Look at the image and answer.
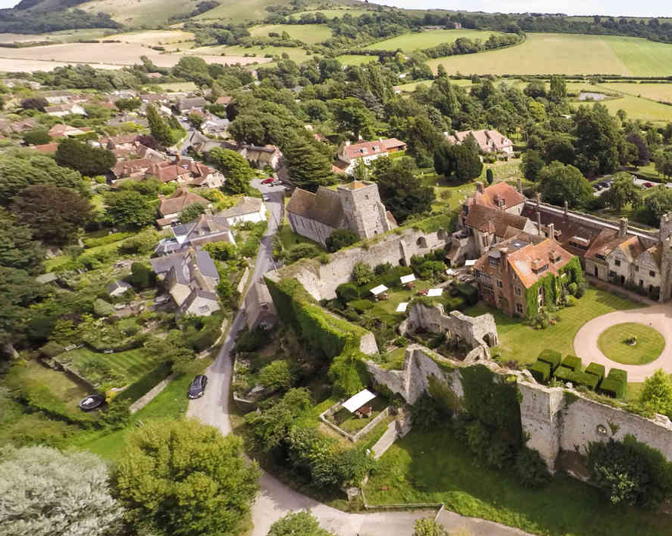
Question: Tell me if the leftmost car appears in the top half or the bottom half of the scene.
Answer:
bottom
